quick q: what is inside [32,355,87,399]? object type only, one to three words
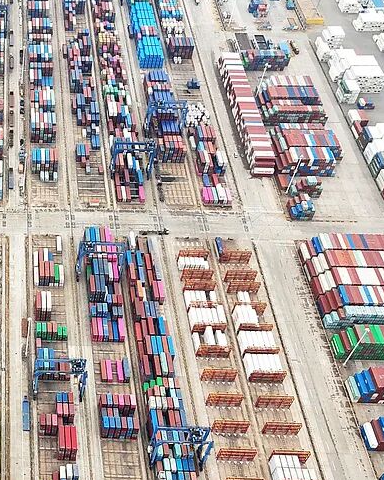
container crane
